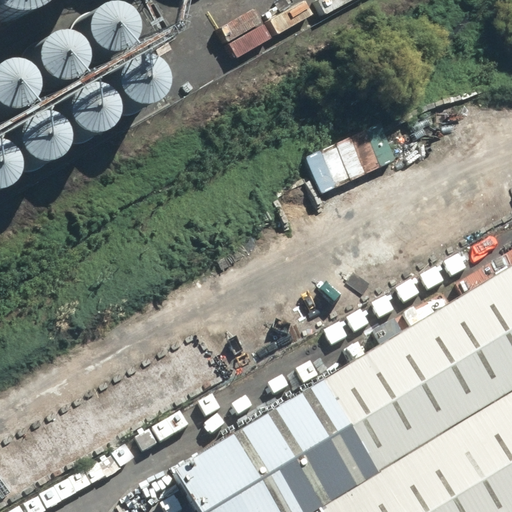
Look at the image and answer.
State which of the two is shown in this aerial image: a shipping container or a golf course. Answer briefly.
shipping container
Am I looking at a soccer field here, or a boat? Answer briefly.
boat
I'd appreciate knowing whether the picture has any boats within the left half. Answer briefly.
No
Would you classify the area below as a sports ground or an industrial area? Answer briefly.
industrial area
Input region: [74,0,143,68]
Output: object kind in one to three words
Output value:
silo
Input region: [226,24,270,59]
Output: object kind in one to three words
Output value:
shipping container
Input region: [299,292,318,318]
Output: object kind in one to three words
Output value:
work vehicle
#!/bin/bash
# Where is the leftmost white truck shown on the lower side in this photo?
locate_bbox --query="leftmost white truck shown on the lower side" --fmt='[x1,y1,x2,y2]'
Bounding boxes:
[224,394,252,417]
